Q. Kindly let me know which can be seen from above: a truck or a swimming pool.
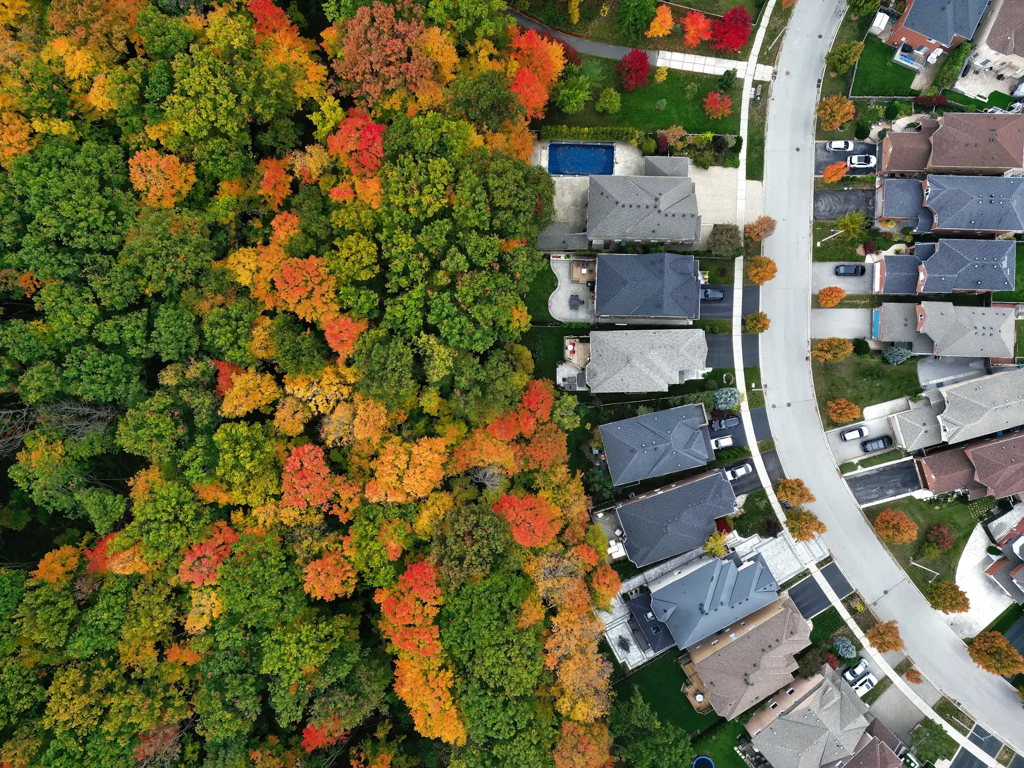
swimming pool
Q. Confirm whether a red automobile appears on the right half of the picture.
No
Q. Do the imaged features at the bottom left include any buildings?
No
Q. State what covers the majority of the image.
trees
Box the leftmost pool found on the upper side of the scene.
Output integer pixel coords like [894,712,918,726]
[546,140,616,177]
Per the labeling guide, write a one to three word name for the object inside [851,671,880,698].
car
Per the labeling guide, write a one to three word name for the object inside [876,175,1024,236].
house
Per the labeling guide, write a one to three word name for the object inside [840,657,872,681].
car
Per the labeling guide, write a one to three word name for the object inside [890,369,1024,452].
house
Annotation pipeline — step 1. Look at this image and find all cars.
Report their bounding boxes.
[840,657,872,681]
[711,434,737,449]
[859,435,892,453]
[838,426,867,442]
[851,671,880,698]
[726,462,753,481]
[846,154,877,169]
[834,262,866,276]
[710,414,742,431]
[701,286,728,301]
[825,138,853,153]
